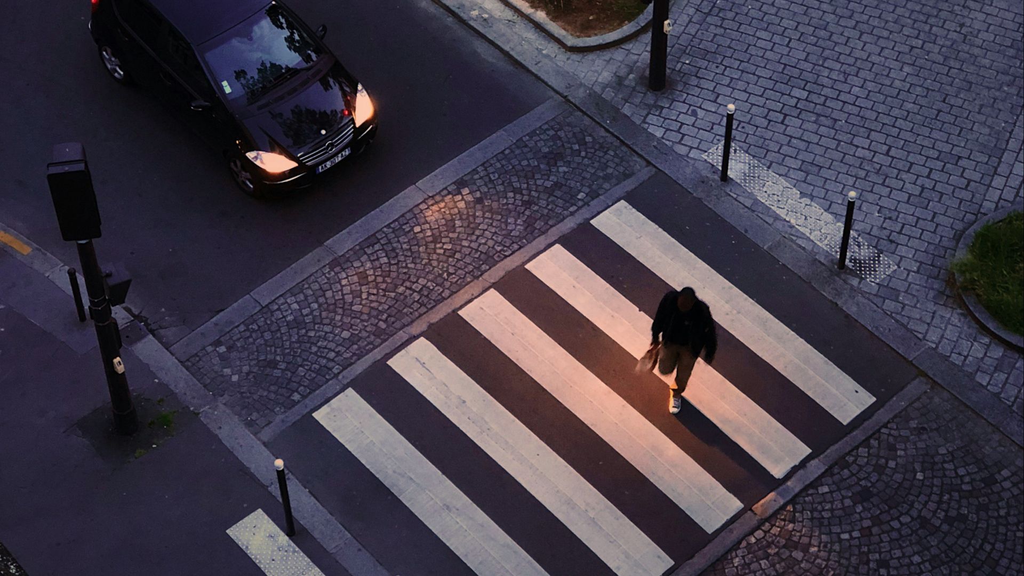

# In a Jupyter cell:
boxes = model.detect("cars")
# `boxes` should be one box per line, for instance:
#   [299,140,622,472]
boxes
[98,0,375,198]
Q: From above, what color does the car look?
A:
black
